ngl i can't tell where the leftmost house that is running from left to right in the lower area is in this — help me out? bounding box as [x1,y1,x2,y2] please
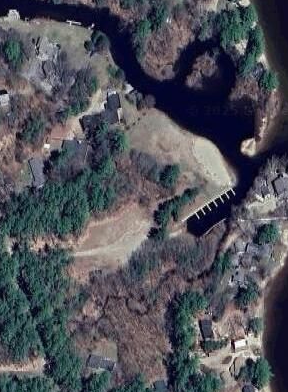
[86,355,115,373]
